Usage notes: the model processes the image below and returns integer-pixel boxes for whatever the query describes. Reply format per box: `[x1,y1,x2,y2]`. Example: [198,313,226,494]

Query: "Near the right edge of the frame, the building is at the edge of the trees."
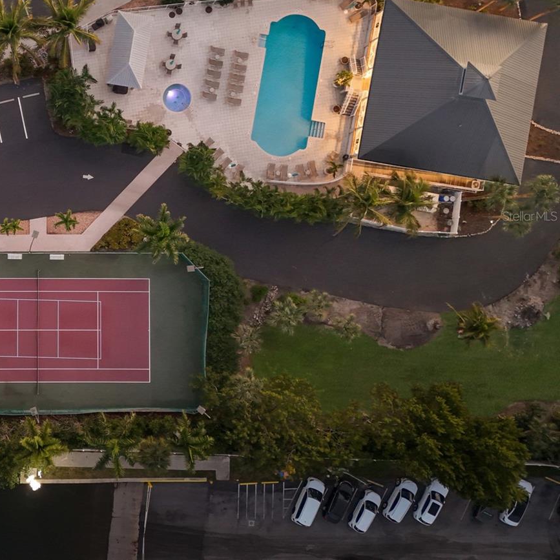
[349,0,548,193]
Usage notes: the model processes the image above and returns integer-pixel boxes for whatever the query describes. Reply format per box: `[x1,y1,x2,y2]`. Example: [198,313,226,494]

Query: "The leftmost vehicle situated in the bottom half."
[292,481,325,528]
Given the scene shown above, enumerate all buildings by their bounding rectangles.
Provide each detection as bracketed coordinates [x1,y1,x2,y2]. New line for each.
[107,12,154,90]
[349,0,548,193]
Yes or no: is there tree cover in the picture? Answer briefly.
Yes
